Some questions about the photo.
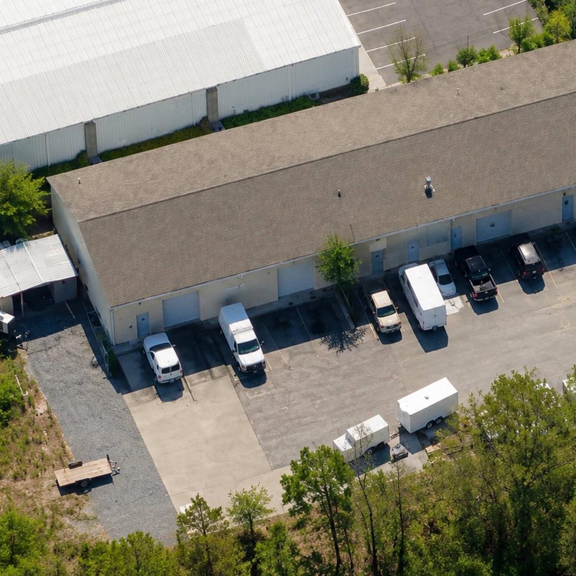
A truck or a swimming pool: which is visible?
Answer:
truck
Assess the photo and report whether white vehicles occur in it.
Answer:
Yes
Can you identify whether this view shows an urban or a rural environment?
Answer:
urban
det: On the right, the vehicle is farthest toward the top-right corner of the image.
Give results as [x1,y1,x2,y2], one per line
[505,234,543,280]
